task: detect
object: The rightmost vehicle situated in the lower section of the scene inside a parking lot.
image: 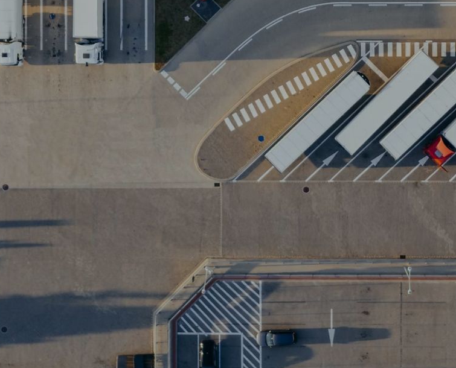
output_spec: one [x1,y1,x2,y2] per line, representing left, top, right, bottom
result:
[257,328,295,349]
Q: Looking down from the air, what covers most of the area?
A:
paved ground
